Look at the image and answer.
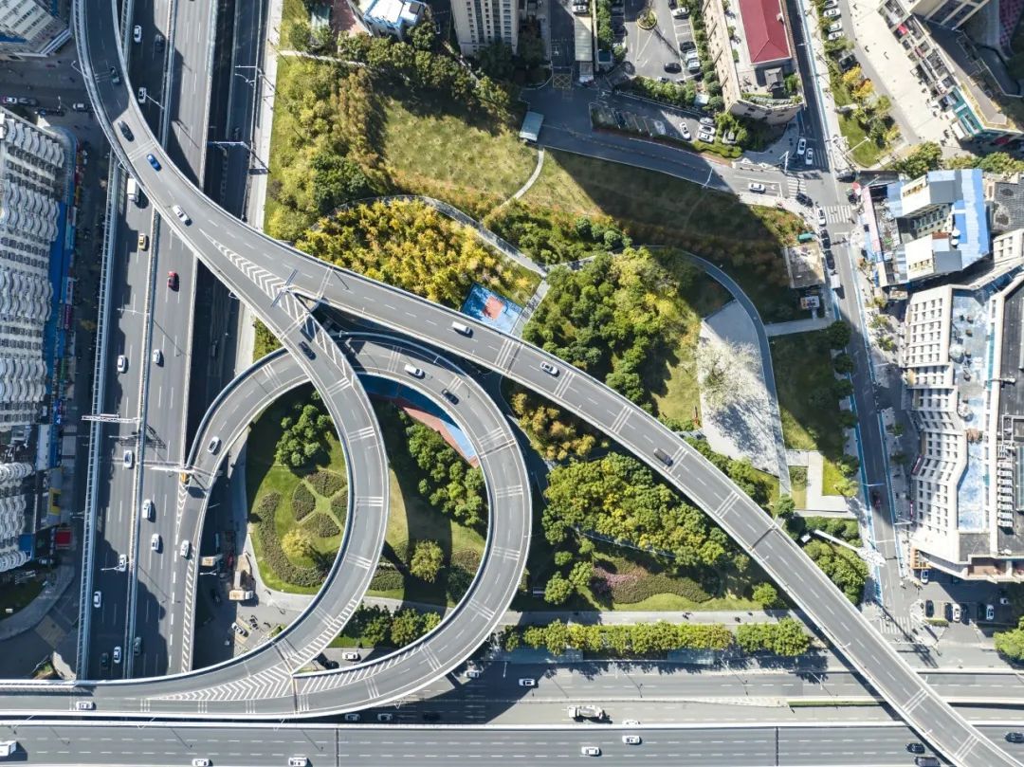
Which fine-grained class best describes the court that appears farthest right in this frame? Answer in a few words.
basketball court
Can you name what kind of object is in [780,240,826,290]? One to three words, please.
shed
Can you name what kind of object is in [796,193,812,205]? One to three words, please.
vehicle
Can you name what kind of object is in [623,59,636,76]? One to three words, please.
vehicle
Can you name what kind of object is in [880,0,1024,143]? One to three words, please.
building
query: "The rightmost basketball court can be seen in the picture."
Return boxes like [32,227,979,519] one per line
[459,285,522,337]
